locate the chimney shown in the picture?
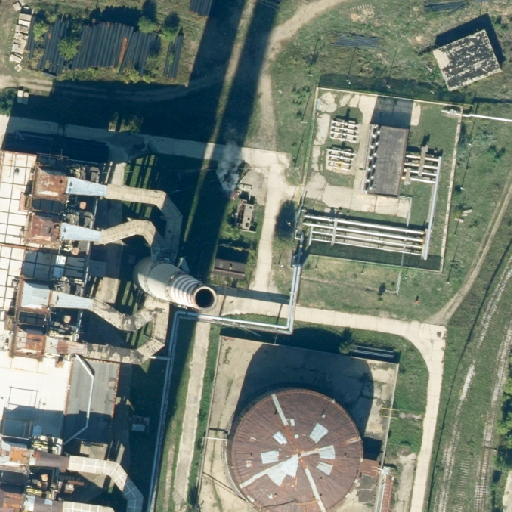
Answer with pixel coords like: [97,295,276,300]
[132,256,217,310]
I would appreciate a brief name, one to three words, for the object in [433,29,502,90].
building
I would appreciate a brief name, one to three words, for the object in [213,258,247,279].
shed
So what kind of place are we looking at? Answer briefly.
industrial area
